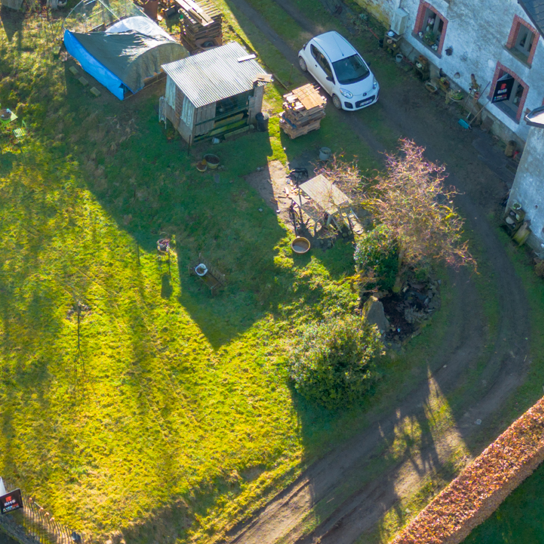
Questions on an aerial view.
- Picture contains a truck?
No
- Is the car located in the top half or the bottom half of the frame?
top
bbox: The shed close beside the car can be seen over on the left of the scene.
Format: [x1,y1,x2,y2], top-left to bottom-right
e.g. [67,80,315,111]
[159,50,275,146]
